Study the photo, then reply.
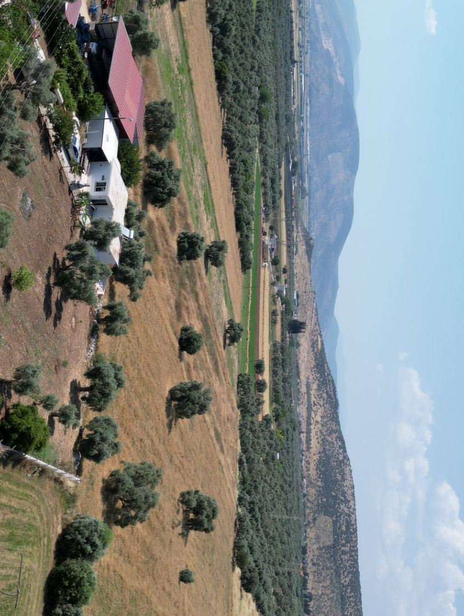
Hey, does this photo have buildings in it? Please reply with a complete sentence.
Yes, a building can be made out from above.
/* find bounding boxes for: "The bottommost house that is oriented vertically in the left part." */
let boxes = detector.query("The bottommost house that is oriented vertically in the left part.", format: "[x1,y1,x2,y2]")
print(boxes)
[88,155,128,267]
